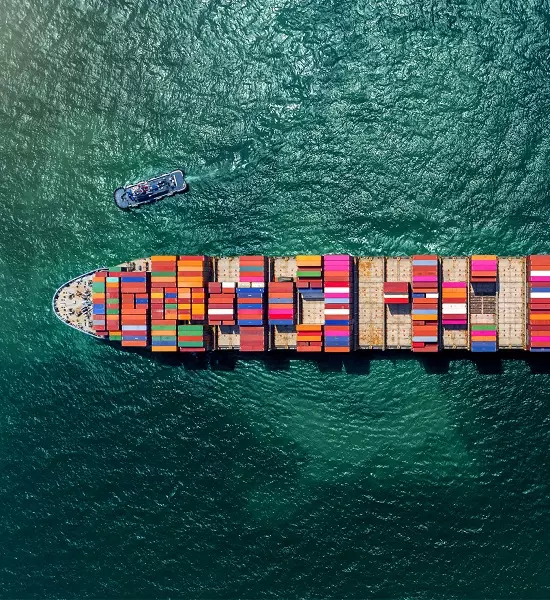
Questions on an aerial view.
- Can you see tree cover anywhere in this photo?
No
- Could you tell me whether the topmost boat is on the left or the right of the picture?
left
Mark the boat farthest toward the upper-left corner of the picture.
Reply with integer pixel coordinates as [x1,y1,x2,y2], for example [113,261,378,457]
[115,172,188,207]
